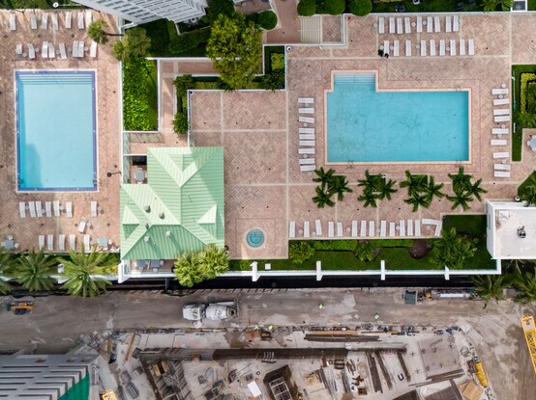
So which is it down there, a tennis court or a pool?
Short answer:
pool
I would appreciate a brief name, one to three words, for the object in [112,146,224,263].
building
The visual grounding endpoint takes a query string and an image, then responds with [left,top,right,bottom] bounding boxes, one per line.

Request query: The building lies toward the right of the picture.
[486,201,536,260]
